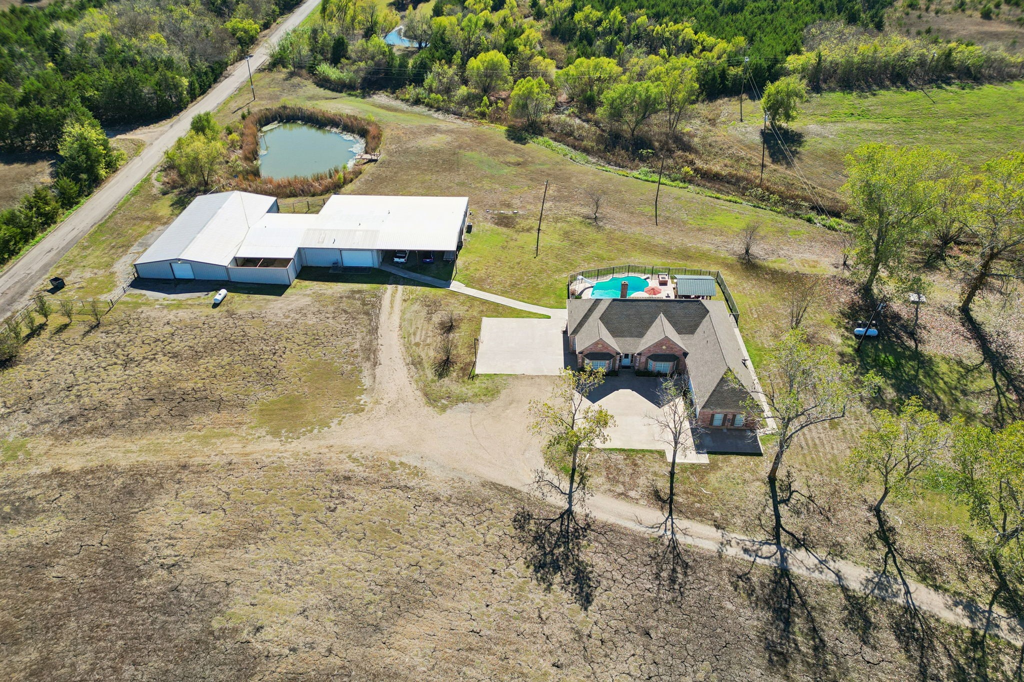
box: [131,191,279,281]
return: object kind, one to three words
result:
barn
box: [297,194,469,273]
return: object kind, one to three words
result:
building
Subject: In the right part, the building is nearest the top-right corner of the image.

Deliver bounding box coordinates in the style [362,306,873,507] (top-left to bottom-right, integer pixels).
[673,276,717,301]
